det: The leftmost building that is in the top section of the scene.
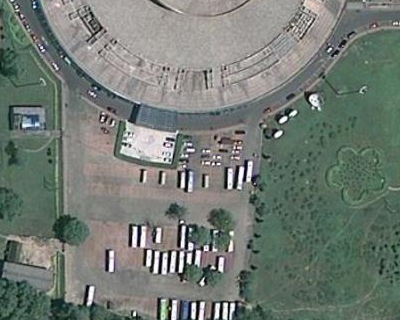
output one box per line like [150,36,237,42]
[10,108,46,130]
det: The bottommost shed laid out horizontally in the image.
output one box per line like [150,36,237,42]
[0,262,54,288]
